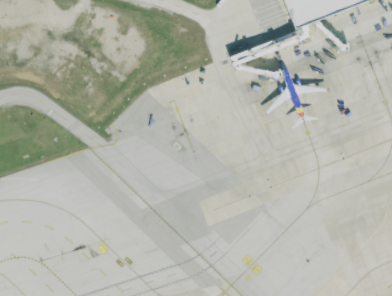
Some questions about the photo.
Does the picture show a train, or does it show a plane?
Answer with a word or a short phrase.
plane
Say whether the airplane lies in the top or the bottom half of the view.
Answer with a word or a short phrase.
top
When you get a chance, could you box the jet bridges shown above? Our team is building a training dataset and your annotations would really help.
[316,21,352,52]
[234,64,285,78]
